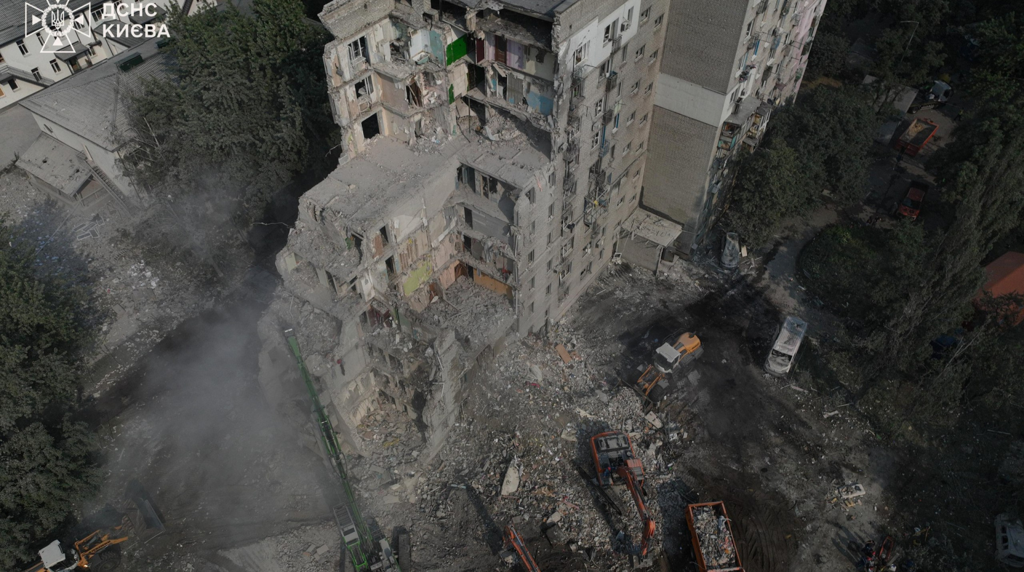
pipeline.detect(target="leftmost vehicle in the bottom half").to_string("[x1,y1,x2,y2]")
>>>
[6,505,152,572]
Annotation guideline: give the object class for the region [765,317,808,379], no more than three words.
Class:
van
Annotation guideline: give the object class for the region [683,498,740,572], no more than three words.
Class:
truck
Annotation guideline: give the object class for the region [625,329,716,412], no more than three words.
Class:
work vehicle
